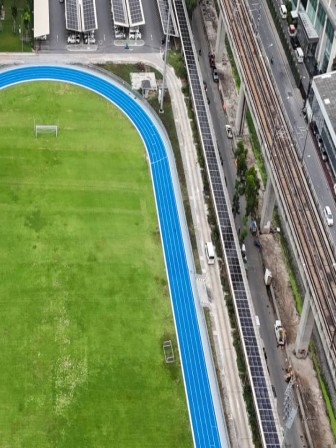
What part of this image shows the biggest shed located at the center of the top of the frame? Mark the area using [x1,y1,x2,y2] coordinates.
[130,70,156,91]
